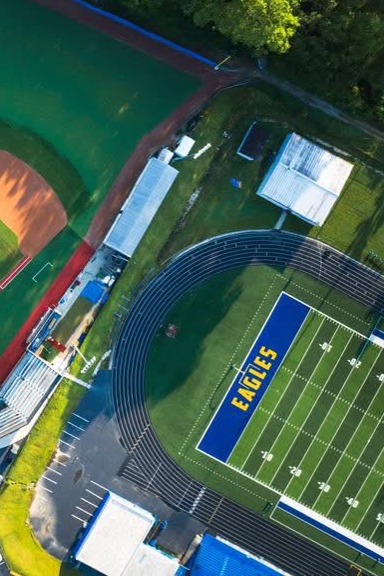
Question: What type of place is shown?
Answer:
sports ground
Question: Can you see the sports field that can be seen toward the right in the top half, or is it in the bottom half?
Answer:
bottom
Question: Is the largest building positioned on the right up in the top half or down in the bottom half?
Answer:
top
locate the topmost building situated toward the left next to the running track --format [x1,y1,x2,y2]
[102,159,180,256]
